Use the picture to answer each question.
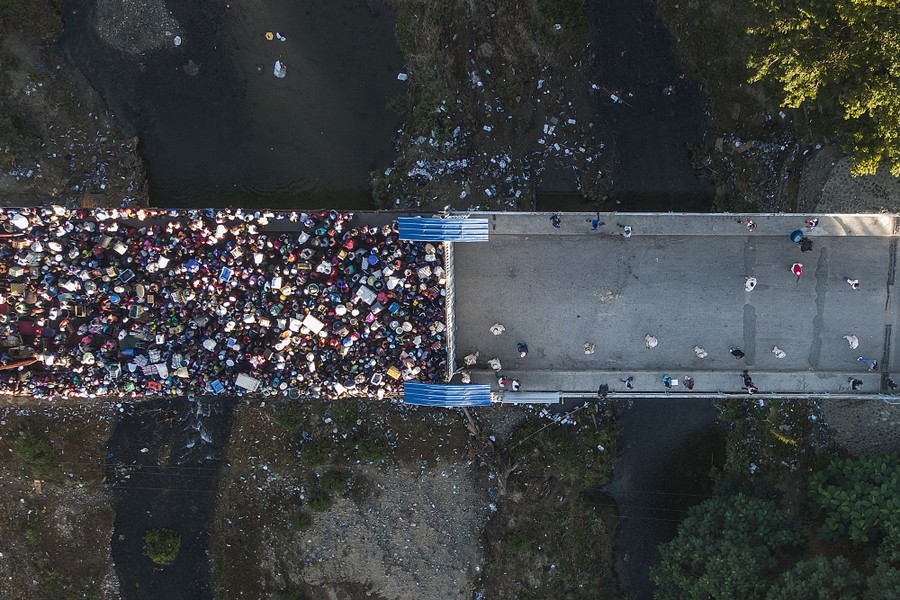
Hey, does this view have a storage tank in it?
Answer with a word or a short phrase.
No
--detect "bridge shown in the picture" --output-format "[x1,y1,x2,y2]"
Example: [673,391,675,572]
[0,210,900,404]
